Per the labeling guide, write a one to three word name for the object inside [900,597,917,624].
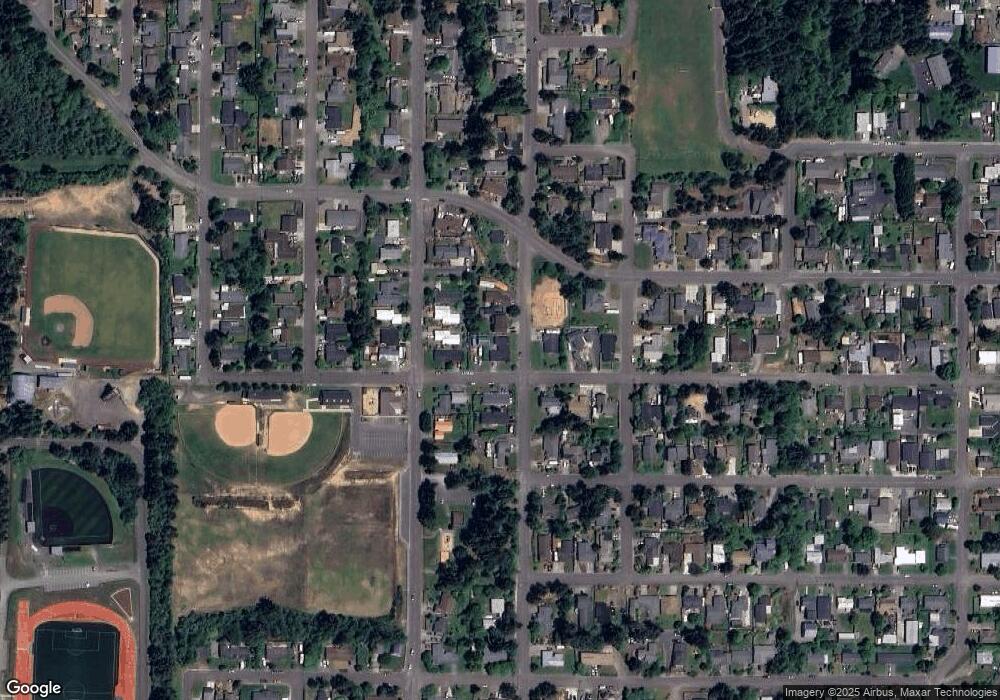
house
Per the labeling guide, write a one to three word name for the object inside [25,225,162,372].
baseball field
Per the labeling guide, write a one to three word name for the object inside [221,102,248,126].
house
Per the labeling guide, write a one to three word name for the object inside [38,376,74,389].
building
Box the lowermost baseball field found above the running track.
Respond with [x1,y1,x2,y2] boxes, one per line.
[26,468,113,547]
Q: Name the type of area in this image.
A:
residential area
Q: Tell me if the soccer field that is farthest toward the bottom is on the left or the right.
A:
left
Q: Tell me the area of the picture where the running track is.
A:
bottom left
